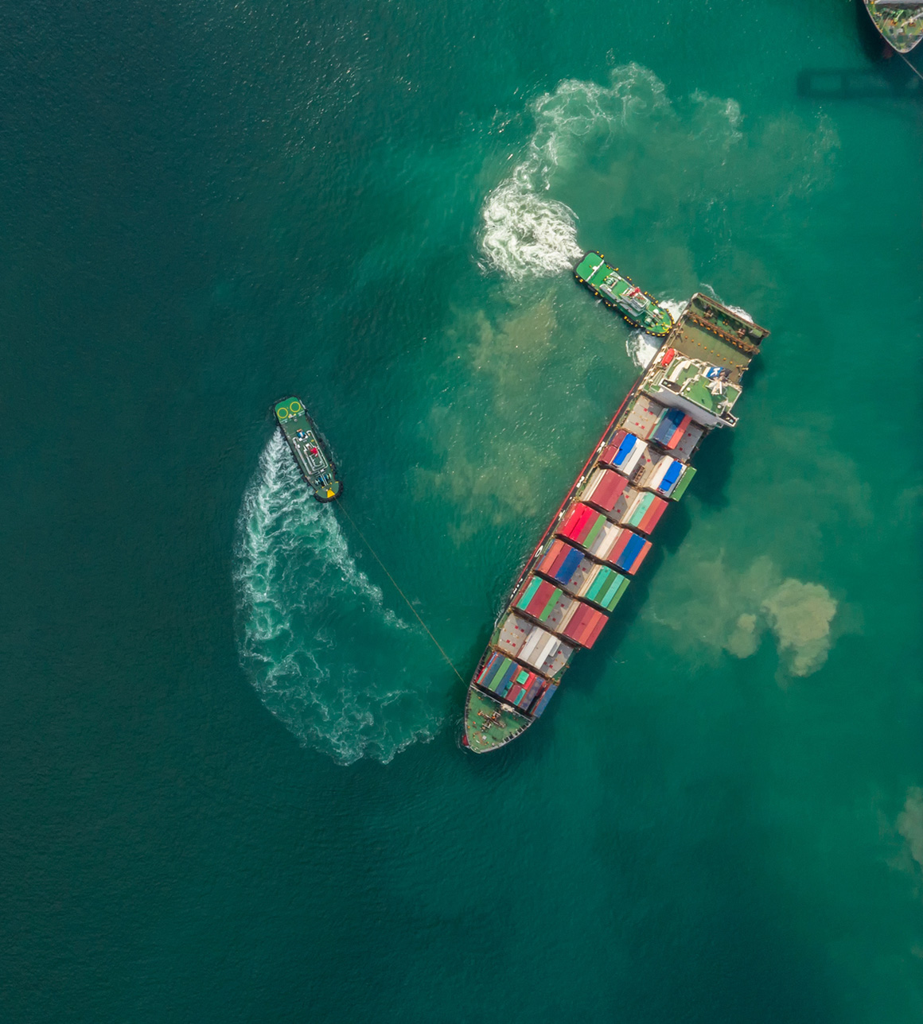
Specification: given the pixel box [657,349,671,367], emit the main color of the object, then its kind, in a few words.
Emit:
red boat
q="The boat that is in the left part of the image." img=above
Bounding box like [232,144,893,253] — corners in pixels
[274,396,343,503]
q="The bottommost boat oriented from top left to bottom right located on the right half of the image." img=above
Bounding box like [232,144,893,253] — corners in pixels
[571,252,672,335]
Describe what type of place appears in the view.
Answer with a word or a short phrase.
port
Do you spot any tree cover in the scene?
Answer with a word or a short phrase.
No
